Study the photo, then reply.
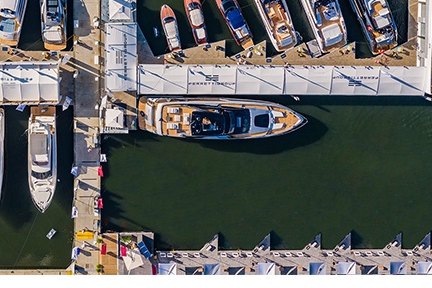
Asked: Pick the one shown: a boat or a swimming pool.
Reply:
boat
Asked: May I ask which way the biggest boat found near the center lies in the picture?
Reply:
from left to right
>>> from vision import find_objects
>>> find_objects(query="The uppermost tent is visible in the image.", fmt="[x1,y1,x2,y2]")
[111,0,133,20]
